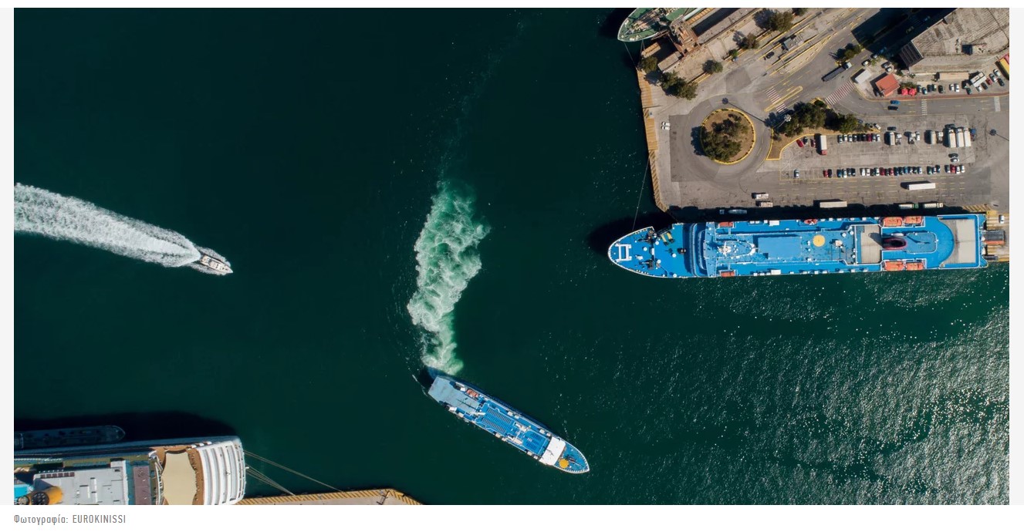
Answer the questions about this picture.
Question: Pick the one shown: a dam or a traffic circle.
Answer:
traffic circle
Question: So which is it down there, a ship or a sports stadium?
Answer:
ship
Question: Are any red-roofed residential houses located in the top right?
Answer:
Yes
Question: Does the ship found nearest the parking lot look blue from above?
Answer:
Yes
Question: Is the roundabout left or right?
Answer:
right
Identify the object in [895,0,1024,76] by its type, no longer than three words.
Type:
building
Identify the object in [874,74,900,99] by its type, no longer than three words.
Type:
house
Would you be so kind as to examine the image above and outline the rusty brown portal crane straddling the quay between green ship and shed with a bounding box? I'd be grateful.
[652,17,703,59]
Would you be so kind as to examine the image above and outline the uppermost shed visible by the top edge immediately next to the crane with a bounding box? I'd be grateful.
[699,0,773,43]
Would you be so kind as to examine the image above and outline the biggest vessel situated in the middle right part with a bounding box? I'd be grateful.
[608,214,1005,278]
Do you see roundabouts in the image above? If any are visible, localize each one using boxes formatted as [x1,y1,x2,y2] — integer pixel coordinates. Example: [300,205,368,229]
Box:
[688,96,768,176]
